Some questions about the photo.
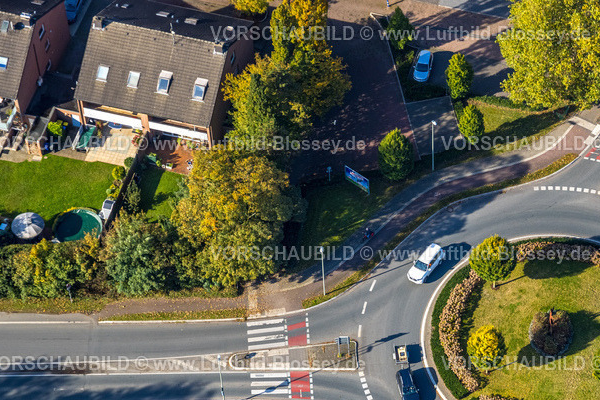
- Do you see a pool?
Yes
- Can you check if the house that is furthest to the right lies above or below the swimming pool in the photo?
above it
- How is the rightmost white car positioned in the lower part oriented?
at an angle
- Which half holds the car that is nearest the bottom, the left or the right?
right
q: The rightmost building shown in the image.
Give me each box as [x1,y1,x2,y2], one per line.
[73,0,251,144]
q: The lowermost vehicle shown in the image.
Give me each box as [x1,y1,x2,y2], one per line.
[396,365,420,400]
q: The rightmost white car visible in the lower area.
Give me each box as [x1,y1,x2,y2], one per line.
[409,243,443,283]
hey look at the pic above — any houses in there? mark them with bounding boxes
[73,0,251,144]
[0,0,67,123]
